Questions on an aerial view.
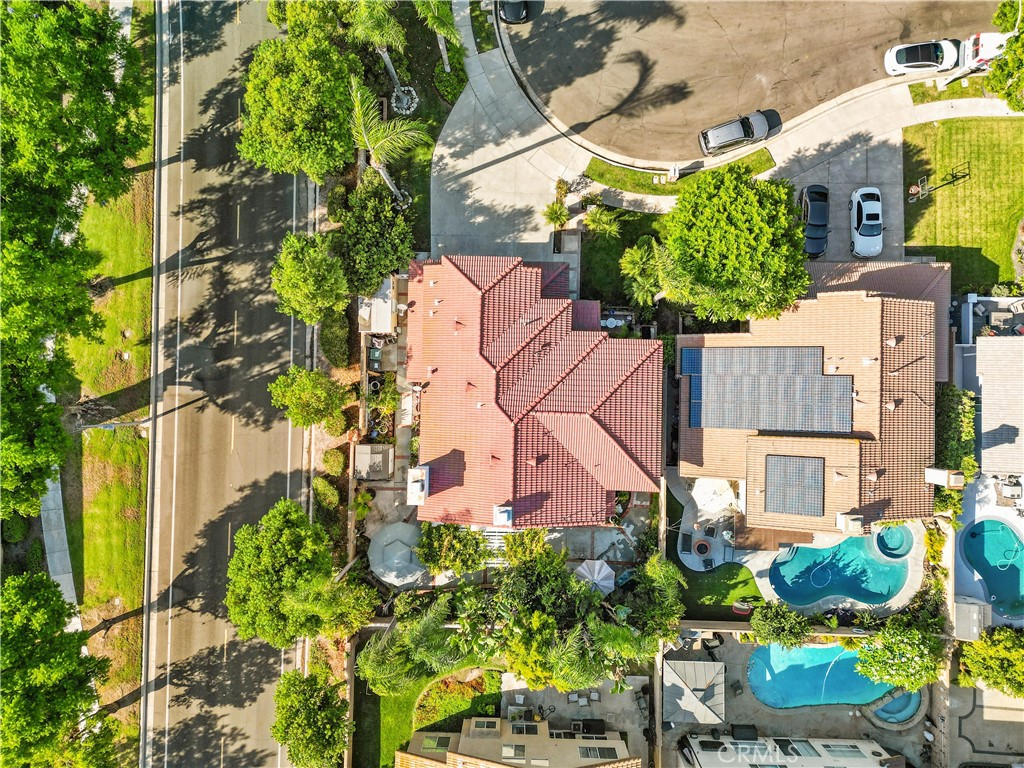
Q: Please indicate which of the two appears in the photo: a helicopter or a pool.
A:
pool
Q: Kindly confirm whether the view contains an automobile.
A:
Yes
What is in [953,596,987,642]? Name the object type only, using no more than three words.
shed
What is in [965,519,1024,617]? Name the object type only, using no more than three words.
swimming pool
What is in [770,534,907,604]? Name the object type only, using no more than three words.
swimming pool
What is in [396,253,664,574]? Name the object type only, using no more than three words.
house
